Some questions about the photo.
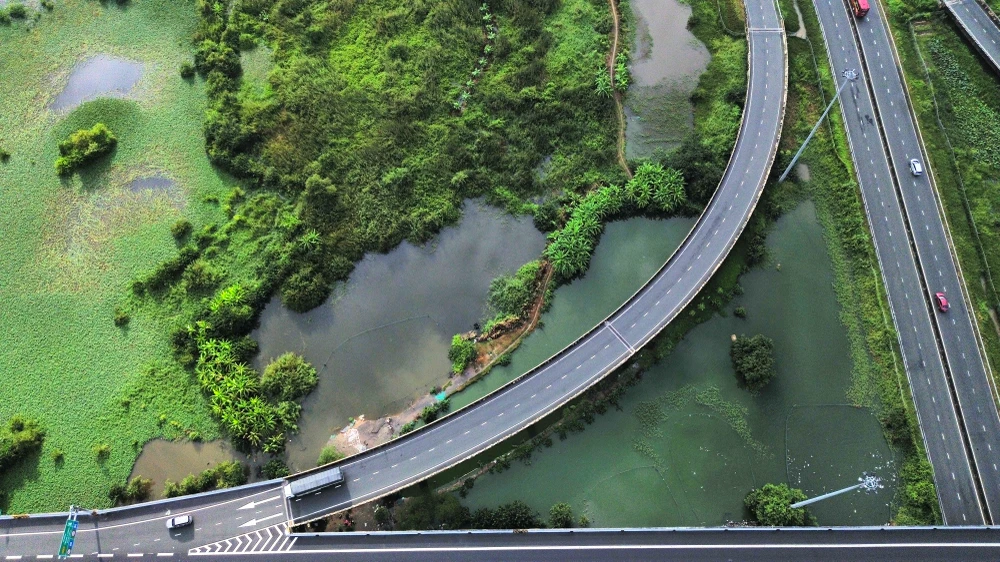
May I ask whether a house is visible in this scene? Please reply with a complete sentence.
No, there is no house in the image.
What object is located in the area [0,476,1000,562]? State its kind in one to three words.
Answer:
bridge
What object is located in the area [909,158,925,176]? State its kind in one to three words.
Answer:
car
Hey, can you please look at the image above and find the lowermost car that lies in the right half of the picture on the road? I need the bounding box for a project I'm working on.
[934,291,952,313]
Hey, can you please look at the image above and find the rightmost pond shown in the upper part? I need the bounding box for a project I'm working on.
[626,0,715,165]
